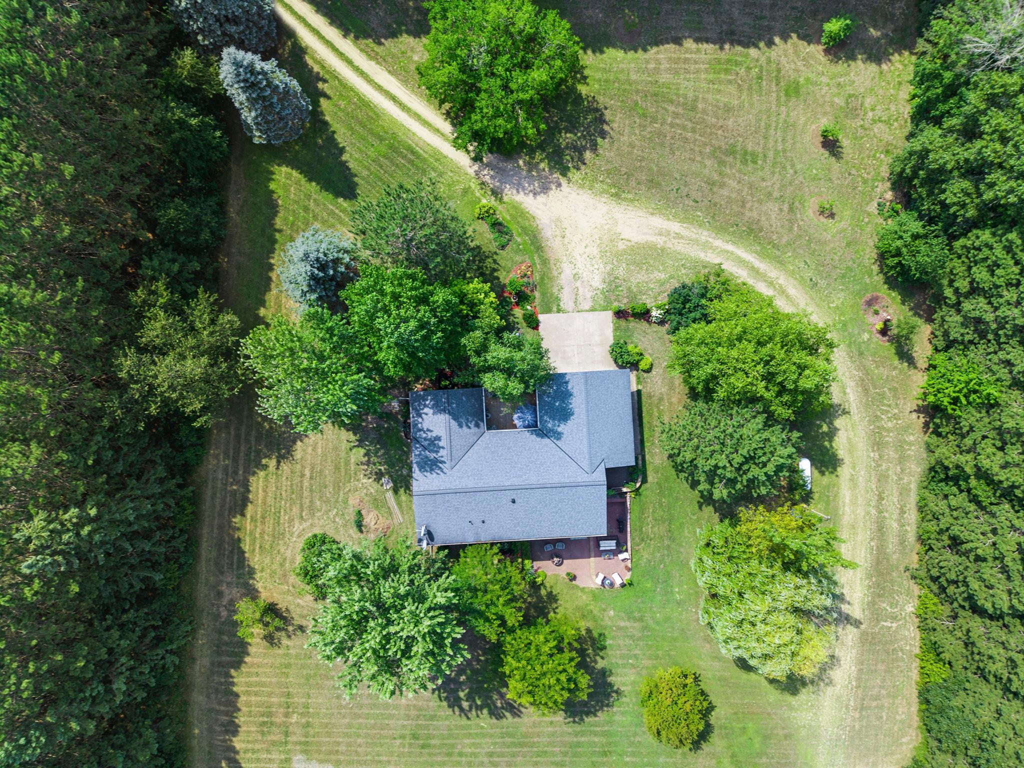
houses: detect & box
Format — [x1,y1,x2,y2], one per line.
[397,368,637,547]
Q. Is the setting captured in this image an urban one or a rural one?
rural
